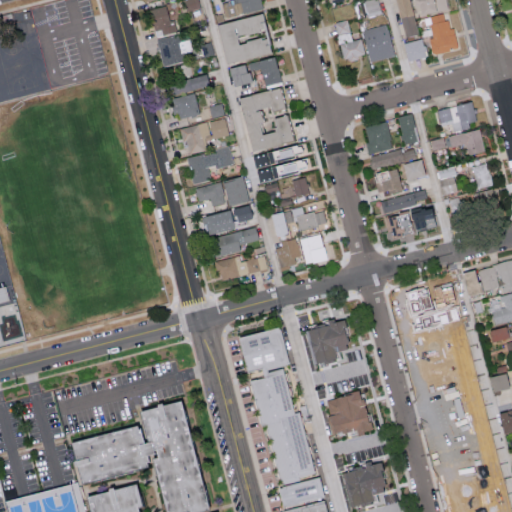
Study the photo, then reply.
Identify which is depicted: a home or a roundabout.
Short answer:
home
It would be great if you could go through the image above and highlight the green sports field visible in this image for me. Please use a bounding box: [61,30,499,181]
[0,78,167,340]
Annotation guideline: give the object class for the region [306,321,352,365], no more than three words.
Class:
building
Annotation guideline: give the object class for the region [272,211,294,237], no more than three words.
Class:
house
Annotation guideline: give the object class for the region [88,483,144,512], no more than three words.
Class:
building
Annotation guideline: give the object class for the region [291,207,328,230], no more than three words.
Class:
house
